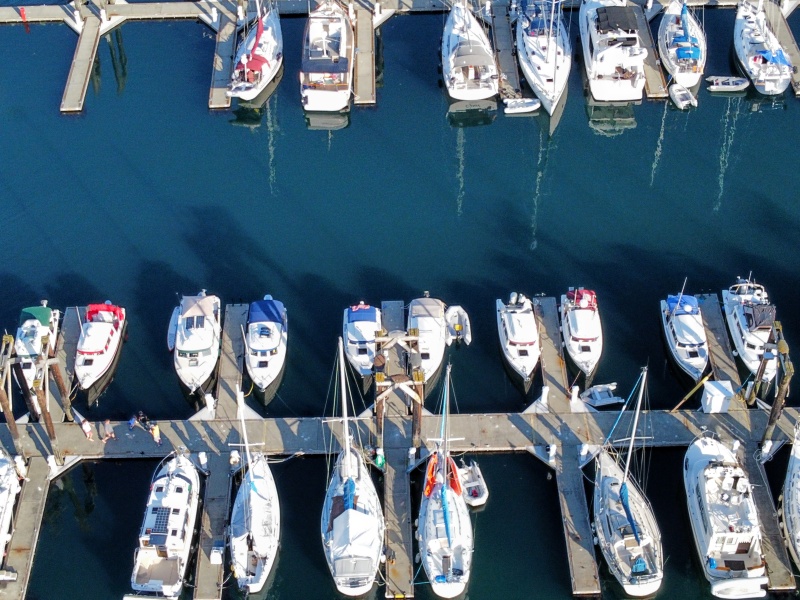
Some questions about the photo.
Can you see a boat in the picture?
Yes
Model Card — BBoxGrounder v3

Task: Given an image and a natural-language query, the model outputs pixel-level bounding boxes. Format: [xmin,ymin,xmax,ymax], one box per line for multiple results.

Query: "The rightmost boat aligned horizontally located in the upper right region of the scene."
[705,77,750,92]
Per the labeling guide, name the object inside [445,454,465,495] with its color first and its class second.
red boat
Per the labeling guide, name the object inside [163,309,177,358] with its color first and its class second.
blue boat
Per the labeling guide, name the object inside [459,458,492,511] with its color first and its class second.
white boat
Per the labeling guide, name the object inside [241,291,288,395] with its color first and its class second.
white boat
